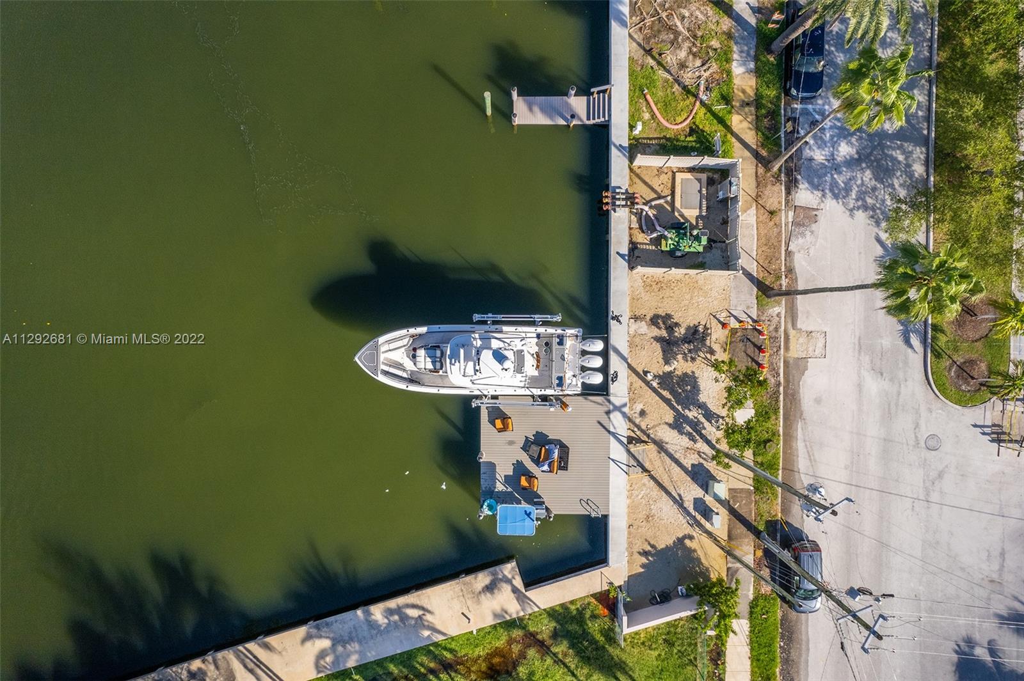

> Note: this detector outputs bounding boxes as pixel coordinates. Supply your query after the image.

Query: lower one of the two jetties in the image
[477,394,608,523]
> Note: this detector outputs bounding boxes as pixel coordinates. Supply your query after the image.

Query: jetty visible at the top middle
[512,84,612,131]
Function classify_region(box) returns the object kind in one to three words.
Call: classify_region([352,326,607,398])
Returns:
boat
